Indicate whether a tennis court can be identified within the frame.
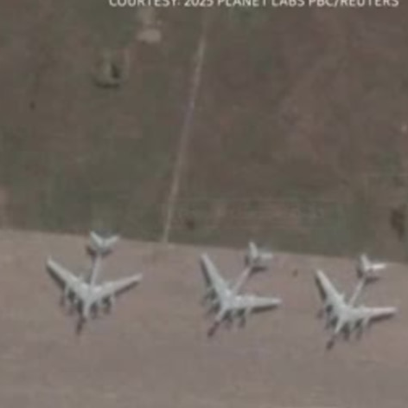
No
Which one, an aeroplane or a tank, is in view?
aeroplane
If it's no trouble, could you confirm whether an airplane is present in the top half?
No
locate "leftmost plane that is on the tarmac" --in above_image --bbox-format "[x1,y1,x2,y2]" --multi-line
[48,231,141,327]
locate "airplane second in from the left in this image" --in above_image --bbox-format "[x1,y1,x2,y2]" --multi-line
[200,241,281,331]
